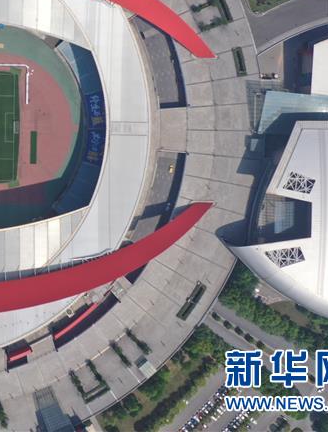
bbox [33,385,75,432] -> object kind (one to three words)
house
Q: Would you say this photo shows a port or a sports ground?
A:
sports ground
